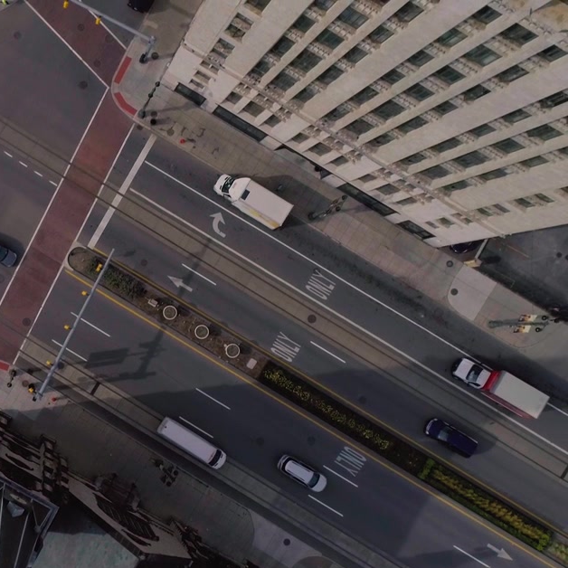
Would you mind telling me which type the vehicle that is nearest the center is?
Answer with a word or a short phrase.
truck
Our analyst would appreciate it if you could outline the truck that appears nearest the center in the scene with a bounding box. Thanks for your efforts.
[213,175,293,229]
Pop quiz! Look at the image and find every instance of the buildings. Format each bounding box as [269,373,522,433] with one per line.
[162,0,568,249]
[0,406,207,568]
